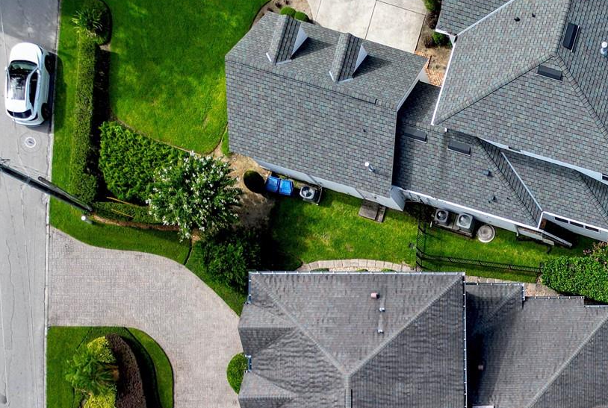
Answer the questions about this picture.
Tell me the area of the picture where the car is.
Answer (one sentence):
You can find the car in the top left area of the picture.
